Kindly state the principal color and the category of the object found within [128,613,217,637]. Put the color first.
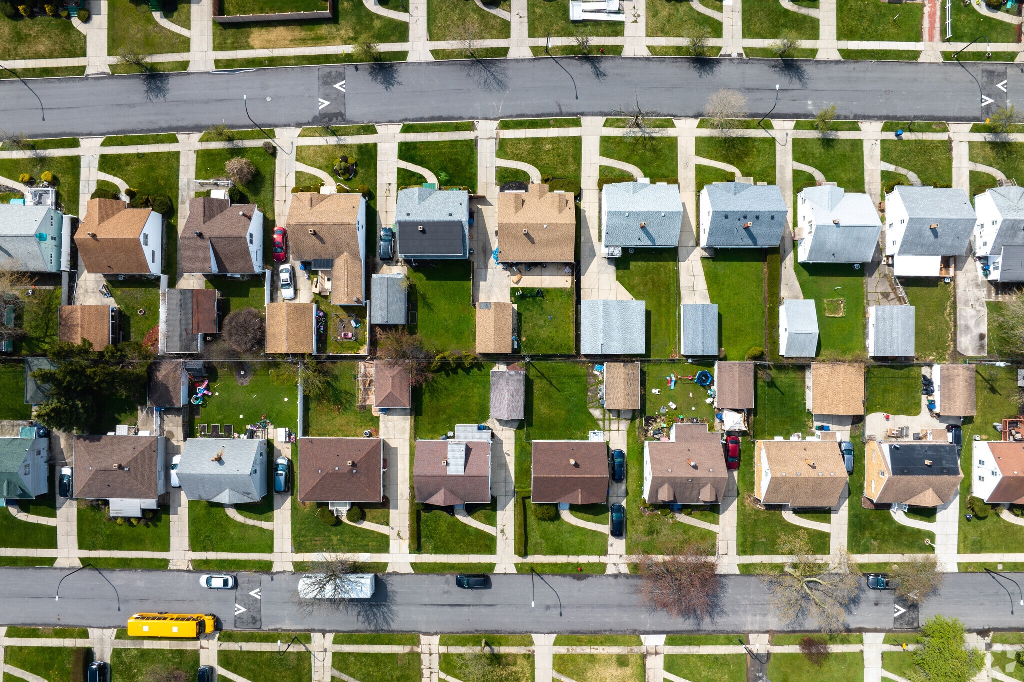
yellow bus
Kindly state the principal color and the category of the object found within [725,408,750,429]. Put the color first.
white tent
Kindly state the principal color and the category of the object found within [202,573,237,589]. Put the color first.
white car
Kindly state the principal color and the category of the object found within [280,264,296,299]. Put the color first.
white car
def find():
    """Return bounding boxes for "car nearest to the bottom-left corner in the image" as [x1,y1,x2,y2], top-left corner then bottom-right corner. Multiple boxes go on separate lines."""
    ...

[88,658,108,682]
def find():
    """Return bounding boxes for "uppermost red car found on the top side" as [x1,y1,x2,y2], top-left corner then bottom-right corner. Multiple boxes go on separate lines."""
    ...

[272,227,288,262]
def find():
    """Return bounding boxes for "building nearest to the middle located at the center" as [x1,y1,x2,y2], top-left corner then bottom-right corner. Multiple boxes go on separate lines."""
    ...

[476,302,512,353]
